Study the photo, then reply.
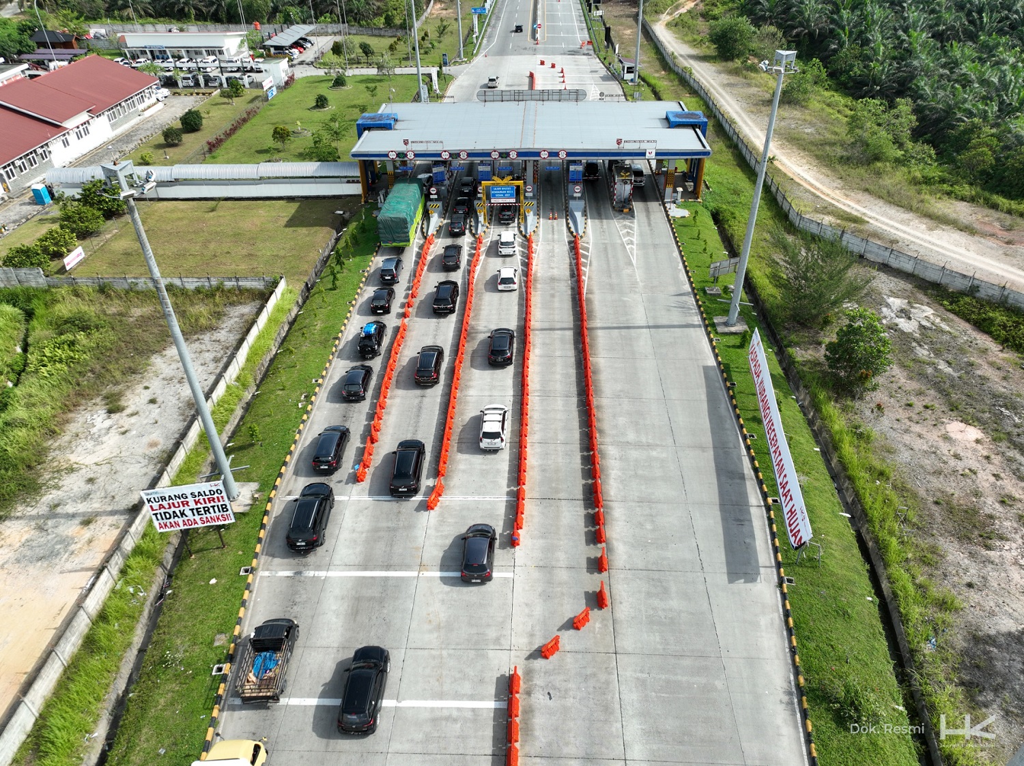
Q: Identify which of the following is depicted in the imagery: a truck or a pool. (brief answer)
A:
truck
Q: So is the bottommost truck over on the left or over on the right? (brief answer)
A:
left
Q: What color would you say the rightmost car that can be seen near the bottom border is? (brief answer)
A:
black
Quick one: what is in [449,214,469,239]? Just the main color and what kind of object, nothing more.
black car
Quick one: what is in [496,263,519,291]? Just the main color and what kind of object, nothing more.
white car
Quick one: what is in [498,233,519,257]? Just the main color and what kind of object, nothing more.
white car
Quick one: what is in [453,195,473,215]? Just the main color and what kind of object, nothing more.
black car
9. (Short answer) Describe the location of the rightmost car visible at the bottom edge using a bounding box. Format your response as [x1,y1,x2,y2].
[340,639,395,734]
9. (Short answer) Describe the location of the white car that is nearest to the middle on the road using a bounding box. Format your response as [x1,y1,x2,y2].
[478,400,511,451]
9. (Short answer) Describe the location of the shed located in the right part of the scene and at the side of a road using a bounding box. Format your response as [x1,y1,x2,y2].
[618,56,644,82]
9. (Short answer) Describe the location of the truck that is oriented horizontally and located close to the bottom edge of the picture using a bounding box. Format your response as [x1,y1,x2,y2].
[194,728,279,766]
